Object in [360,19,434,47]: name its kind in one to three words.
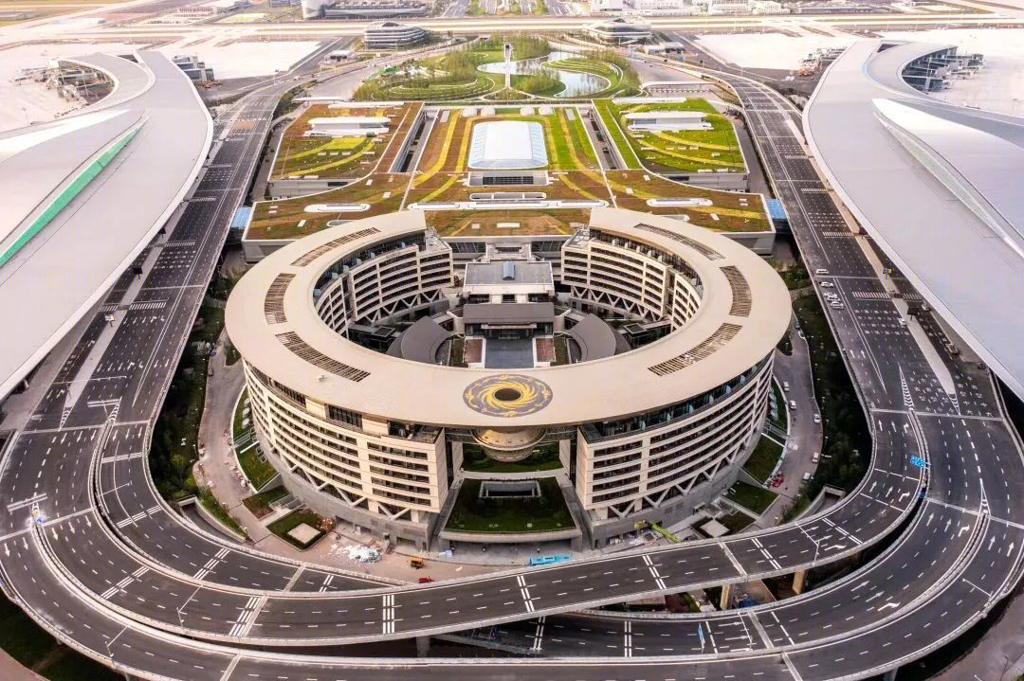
building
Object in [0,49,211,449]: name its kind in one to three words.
building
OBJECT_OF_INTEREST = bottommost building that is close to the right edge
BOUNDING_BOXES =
[804,39,1024,447]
